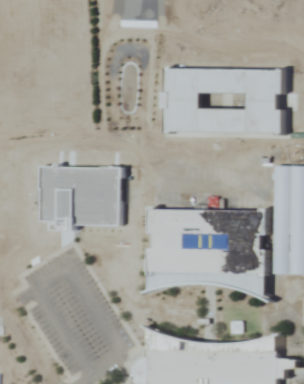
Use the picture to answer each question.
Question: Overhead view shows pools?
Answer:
No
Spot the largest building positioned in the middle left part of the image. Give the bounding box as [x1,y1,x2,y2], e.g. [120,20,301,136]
[39,164,124,225]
